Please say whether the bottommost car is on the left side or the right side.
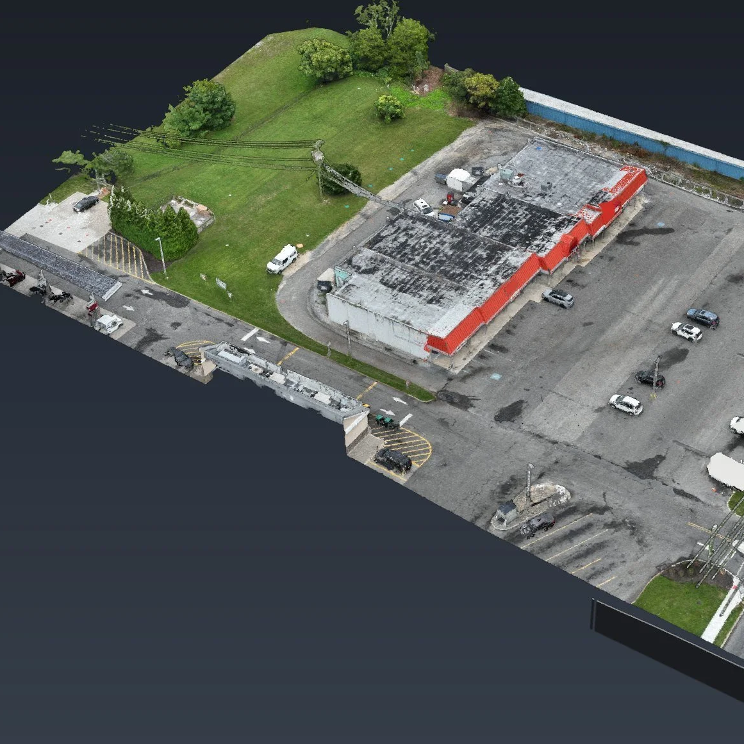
right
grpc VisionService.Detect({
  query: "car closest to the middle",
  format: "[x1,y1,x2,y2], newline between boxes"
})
[374,449,413,471]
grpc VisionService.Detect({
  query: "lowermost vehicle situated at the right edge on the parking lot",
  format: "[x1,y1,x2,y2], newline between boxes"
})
[705,452,744,489]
